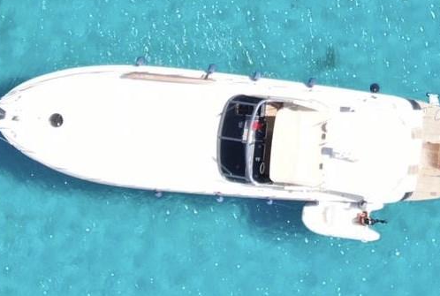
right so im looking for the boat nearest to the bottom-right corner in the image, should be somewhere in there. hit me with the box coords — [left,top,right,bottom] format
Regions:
[302,203,387,240]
